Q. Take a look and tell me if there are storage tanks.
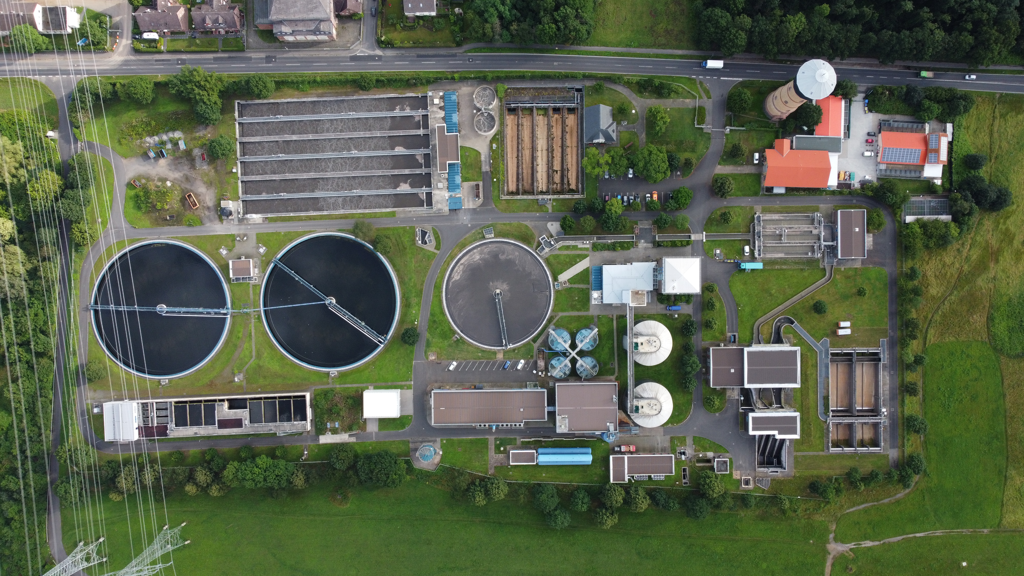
Yes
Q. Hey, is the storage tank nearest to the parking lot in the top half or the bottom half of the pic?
top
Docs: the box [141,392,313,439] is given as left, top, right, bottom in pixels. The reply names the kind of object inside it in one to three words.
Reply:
building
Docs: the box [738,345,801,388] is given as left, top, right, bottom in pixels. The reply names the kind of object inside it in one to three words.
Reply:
building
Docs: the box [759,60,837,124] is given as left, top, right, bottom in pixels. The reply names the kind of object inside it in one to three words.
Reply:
water tower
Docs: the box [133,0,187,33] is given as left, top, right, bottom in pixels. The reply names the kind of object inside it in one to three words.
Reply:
house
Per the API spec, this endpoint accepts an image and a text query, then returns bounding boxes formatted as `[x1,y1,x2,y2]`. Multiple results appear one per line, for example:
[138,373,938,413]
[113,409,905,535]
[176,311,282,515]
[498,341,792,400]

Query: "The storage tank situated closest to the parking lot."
[499,86,585,199]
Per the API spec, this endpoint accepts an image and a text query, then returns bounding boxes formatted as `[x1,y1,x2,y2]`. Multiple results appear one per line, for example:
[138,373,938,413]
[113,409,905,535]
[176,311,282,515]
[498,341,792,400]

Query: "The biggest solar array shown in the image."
[882,147,921,163]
